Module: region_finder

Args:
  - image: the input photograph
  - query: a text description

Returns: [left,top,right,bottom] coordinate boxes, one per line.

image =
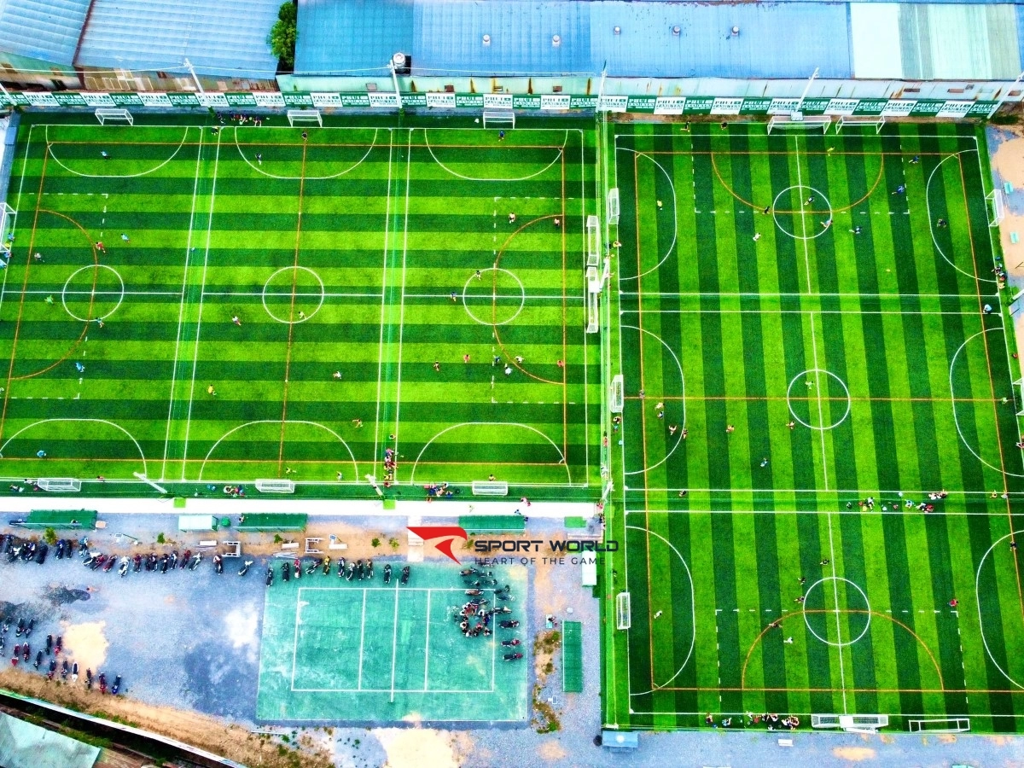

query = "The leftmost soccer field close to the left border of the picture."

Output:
[0,124,202,481]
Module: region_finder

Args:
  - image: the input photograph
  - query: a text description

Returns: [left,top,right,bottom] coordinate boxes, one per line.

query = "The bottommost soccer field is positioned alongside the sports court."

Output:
[625,511,1024,716]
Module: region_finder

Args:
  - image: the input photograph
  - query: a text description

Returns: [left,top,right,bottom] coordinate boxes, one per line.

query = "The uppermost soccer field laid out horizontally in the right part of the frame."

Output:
[615,135,1000,296]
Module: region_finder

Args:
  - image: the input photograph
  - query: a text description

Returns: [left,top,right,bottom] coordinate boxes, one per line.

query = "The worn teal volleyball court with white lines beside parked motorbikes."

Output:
[258,560,528,722]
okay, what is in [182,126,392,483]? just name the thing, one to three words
soccer field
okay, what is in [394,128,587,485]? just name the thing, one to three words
soccer field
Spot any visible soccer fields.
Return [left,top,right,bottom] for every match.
[615,135,1000,296]
[182,126,392,483]
[0,124,202,481]
[619,311,1024,492]
[625,511,1024,716]
[0,128,581,481]
[626,138,1024,712]
[394,128,587,485]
